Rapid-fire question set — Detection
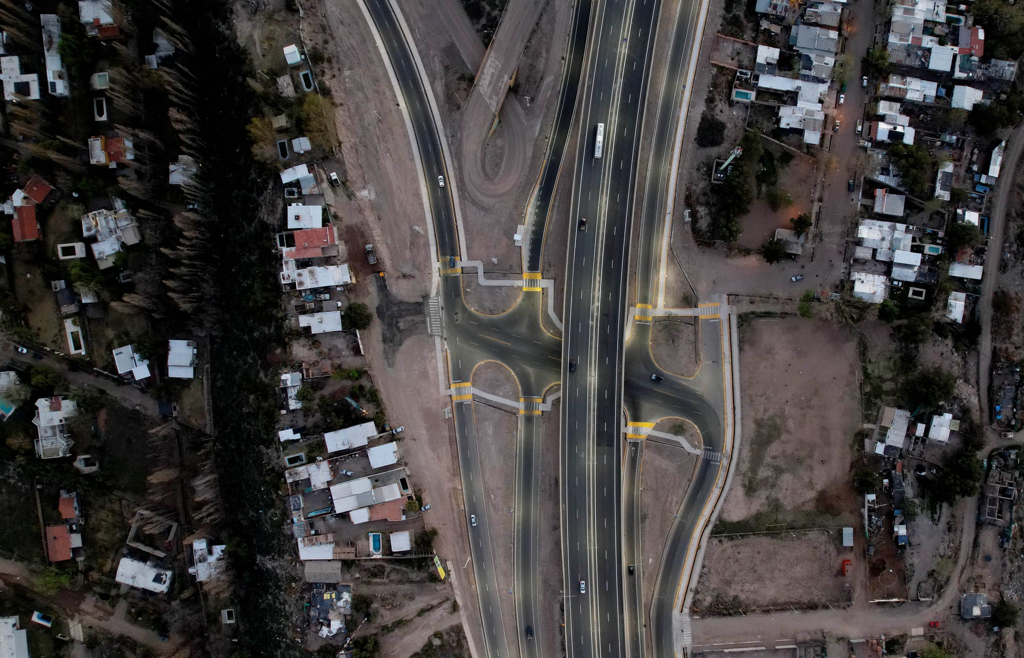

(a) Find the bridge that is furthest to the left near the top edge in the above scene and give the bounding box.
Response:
[464,0,529,142]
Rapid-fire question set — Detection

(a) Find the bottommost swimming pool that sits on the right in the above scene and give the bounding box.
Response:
[908,287,926,300]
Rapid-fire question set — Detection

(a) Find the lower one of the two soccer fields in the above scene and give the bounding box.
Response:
[696,530,848,612]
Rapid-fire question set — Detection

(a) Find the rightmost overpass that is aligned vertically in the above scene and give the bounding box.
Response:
[559,0,662,658]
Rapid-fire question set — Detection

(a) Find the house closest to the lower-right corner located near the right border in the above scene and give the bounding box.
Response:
[956,592,992,618]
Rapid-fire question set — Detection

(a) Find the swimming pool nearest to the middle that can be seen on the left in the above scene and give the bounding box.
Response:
[397,477,413,496]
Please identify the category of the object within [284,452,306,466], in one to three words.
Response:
swimming pool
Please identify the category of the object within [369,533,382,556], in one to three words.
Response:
swimming pool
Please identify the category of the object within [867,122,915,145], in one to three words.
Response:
house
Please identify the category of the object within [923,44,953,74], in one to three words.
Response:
shed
